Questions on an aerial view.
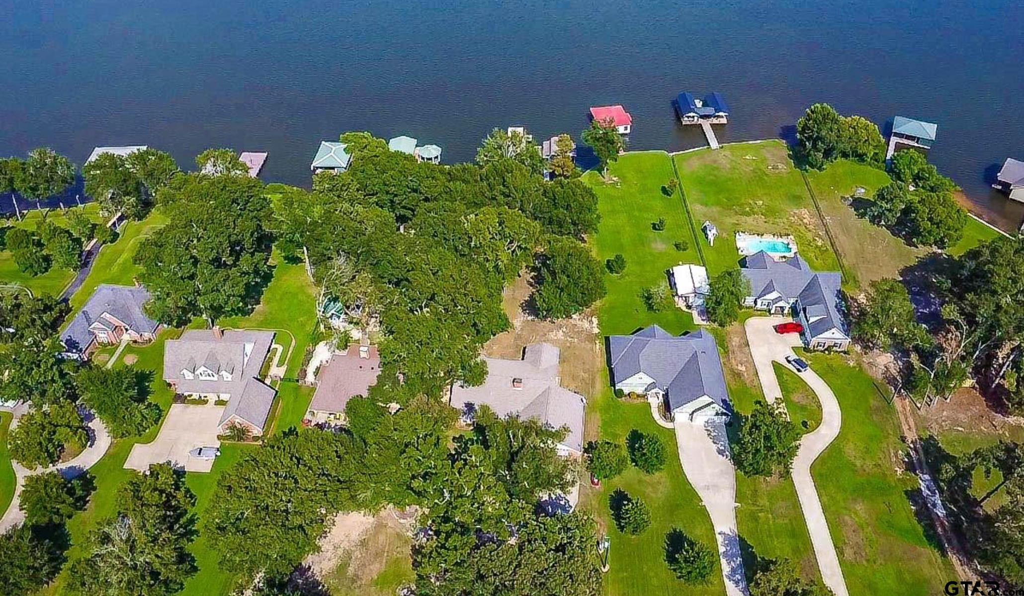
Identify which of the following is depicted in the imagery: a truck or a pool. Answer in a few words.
pool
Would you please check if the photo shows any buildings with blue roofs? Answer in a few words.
Yes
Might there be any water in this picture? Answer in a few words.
Yes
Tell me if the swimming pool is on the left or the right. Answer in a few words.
right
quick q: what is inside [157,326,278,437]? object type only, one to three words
house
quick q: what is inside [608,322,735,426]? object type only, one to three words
house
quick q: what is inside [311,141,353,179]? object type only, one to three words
building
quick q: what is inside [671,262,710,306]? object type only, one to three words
shed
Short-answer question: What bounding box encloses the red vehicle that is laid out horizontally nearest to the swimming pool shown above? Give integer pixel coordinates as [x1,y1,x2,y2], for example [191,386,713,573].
[775,323,805,337]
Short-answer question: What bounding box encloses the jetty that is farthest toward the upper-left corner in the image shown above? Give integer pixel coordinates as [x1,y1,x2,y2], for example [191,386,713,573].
[234,149,269,182]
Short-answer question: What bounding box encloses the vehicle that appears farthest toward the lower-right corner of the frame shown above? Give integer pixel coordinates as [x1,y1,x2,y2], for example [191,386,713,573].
[783,352,813,373]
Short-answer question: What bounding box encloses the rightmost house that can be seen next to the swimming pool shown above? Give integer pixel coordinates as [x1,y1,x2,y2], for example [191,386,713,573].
[729,246,853,351]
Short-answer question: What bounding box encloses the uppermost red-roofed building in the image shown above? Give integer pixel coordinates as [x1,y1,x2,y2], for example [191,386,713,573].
[590,107,632,141]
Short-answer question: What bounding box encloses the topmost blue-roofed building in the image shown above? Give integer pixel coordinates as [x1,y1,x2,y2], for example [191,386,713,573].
[673,90,731,131]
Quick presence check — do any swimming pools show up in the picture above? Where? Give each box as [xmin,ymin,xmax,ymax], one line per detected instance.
[736,231,798,260]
